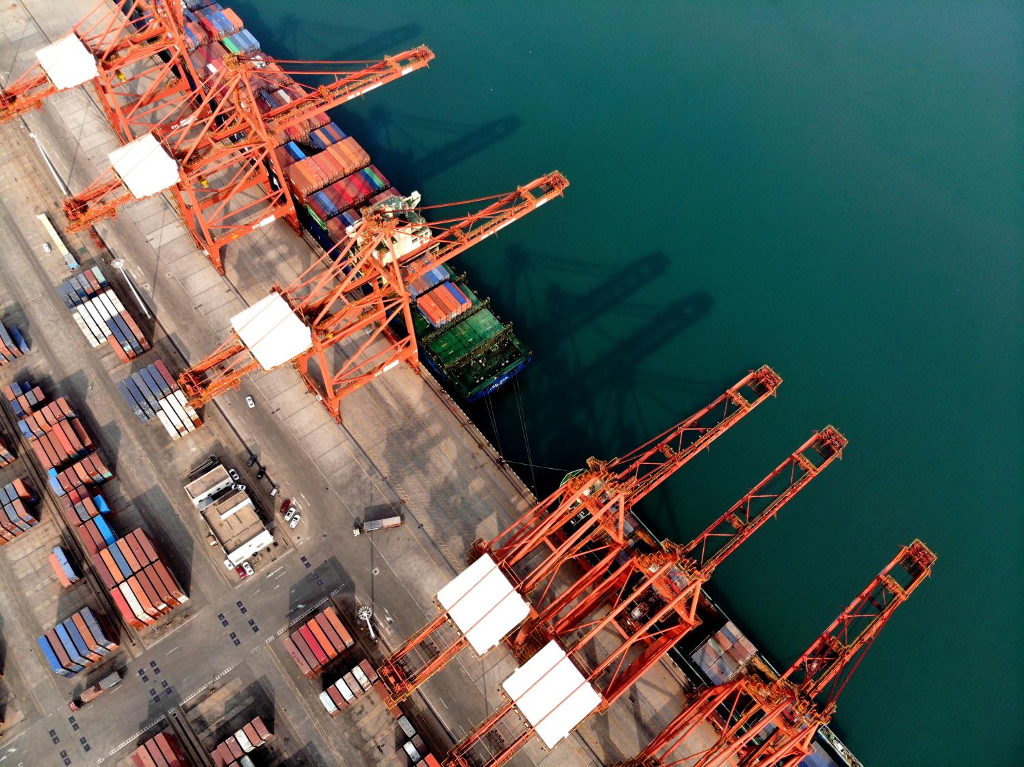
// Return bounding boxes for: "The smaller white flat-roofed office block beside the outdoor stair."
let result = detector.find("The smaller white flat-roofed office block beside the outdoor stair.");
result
[184,463,236,509]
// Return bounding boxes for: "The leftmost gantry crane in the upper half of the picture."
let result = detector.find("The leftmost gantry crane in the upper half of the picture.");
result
[0,0,219,145]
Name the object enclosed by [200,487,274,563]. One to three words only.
building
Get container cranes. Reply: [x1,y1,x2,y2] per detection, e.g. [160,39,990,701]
[50,39,437,267]
[432,420,857,767]
[366,358,790,715]
[0,0,219,145]
[628,535,950,767]
[171,166,576,421]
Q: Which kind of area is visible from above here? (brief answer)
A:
port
